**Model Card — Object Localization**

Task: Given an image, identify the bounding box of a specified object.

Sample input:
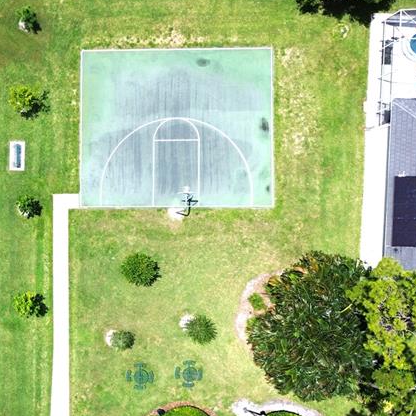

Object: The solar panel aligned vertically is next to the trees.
[393,175,416,247]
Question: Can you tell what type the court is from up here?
basketball court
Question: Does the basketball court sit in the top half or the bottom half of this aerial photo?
top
